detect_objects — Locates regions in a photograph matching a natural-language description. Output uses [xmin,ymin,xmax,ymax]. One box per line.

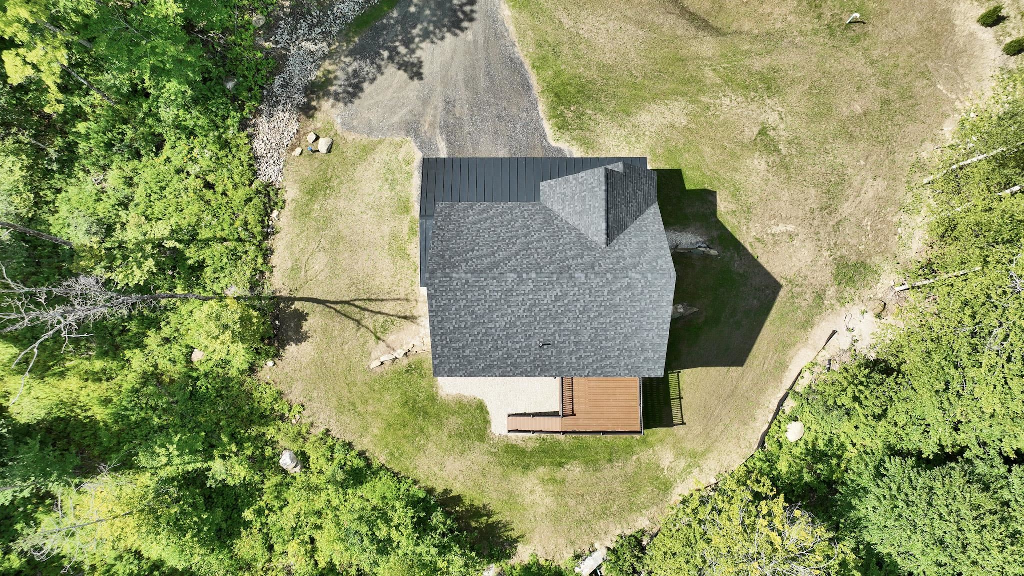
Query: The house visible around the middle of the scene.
[420,157,678,379]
